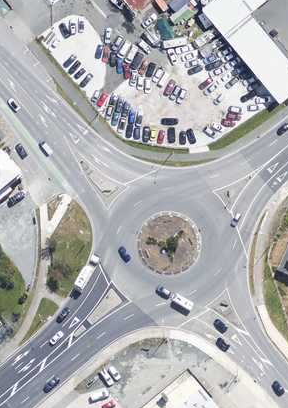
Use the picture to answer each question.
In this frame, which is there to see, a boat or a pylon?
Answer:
boat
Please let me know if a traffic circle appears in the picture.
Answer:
Yes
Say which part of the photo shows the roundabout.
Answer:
center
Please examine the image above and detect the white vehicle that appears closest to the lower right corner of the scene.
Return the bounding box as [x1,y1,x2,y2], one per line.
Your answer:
[170,295,196,316]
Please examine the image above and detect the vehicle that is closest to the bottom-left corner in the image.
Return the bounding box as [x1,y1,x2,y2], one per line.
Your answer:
[44,378,60,392]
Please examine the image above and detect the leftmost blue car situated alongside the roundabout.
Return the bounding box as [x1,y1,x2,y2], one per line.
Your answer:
[118,247,132,264]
